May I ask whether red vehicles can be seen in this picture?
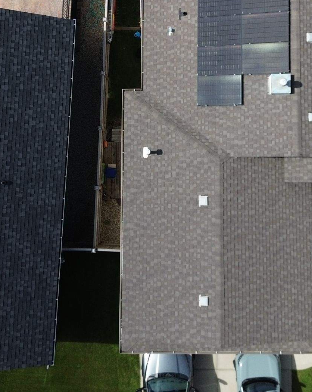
No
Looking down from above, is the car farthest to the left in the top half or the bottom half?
bottom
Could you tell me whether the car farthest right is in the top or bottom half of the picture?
bottom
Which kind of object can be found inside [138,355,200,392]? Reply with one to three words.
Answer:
car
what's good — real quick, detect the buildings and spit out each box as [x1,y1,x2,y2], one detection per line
[118,0,312,355]
[0,8,78,370]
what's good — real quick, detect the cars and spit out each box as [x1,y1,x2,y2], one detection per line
[138,355,200,392]
[230,355,290,392]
